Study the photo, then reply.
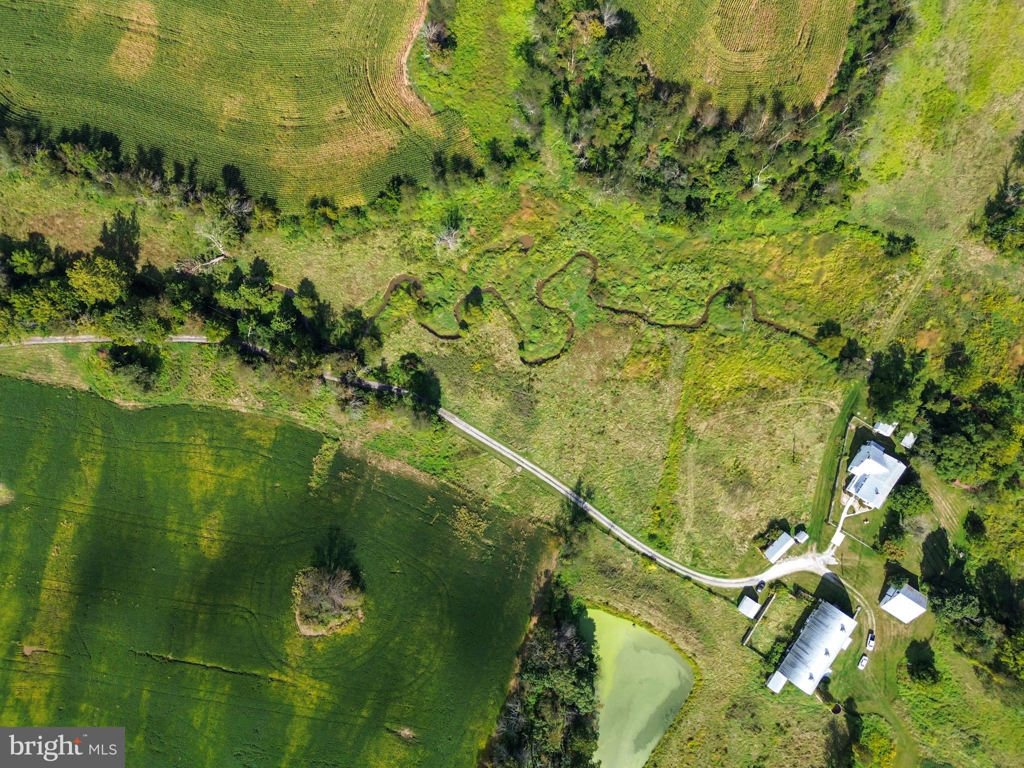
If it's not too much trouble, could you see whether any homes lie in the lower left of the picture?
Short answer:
No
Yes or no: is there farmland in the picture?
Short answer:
Yes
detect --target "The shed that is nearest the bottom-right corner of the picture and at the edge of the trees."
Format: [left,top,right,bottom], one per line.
[877,579,928,623]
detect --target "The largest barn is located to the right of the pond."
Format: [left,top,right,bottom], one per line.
[766,597,857,693]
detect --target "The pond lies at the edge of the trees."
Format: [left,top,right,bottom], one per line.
[575,606,695,768]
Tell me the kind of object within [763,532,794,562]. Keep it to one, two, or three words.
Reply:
shed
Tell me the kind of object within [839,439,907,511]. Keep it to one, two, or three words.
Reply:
house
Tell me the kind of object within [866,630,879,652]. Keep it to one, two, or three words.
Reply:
vehicle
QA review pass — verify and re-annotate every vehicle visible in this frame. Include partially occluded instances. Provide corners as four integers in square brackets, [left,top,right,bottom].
[866,630,879,652]
[857,654,870,673]
[756,580,765,593]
